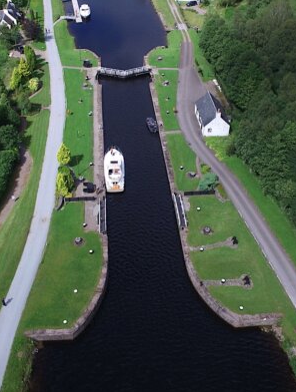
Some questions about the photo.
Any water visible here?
Yes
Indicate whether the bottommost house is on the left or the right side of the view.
right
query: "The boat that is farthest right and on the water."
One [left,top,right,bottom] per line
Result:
[147,116,160,135]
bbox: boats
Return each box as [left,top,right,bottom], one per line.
[147,116,160,135]
[80,1,91,19]
[106,143,127,196]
